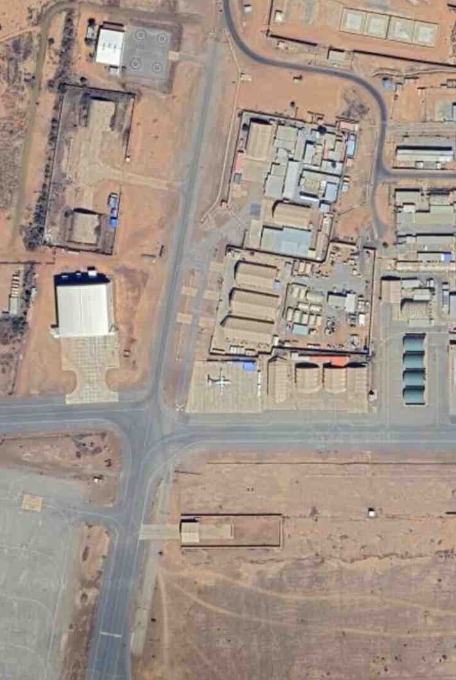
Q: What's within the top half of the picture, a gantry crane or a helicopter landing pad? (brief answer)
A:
helicopter landing pad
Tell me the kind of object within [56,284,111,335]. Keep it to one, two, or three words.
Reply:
hangar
